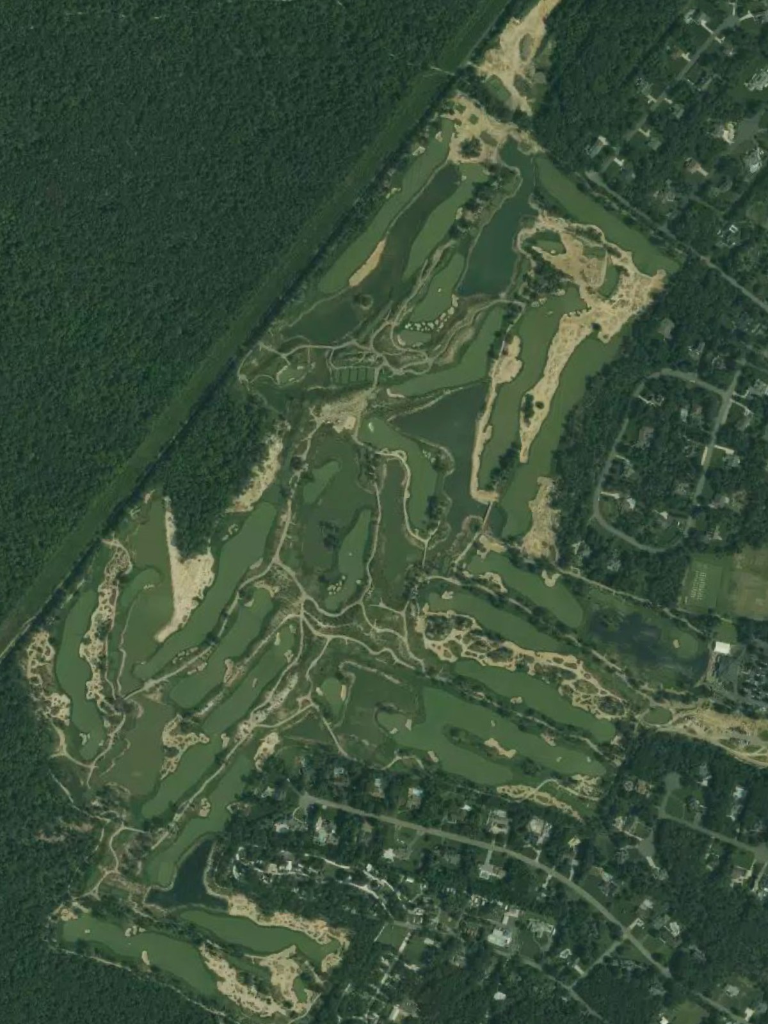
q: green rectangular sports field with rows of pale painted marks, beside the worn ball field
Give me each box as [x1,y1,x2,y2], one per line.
[682,561,723,607]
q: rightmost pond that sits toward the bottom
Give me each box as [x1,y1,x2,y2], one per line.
[589,613,708,680]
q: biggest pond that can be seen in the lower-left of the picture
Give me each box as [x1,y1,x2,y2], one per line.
[143,837,227,913]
